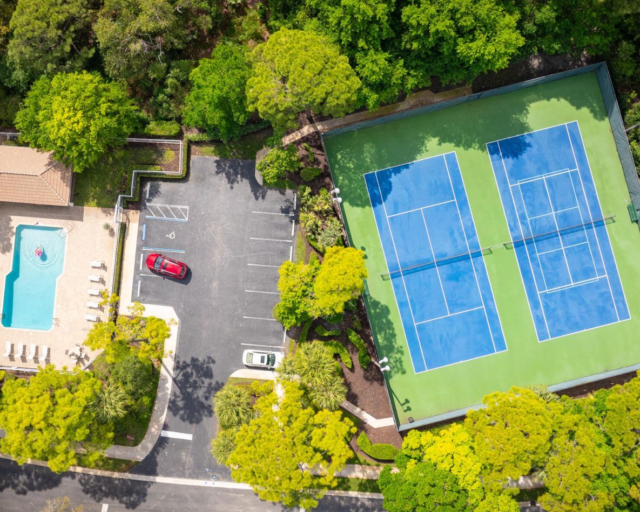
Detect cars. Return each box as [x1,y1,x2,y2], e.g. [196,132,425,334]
[242,349,286,369]
[147,255,187,279]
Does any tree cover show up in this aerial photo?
Yes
